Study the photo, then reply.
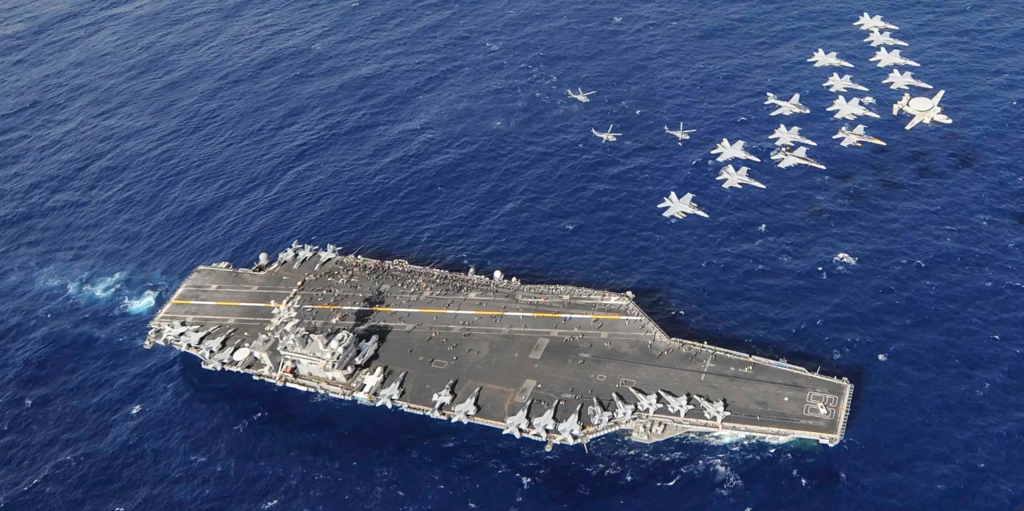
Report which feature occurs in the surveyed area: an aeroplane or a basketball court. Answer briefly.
aeroplane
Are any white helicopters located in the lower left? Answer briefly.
No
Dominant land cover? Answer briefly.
water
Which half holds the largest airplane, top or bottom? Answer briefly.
top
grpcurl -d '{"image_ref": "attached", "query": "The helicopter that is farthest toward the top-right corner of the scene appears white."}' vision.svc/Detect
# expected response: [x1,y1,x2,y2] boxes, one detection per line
[662,121,694,143]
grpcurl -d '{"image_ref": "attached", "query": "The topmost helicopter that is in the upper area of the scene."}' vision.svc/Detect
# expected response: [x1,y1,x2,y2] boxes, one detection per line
[569,84,598,103]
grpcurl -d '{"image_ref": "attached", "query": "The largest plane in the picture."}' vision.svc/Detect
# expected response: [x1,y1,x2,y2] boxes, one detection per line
[892,87,955,133]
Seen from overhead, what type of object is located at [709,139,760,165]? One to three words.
airplane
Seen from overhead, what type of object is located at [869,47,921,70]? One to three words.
airplane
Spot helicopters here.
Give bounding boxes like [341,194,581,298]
[662,121,694,143]
[569,84,598,103]
[593,122,624,144]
